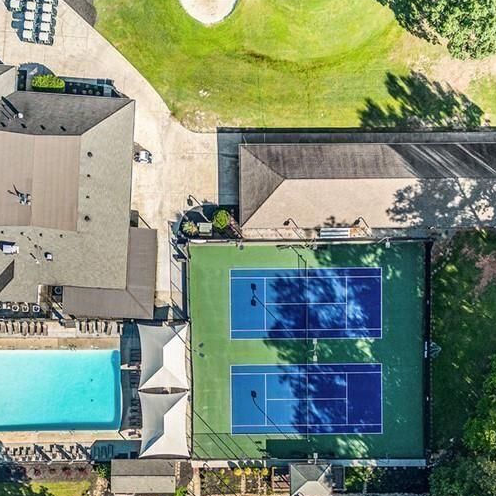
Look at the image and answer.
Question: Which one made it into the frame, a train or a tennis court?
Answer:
tennis court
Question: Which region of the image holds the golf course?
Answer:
top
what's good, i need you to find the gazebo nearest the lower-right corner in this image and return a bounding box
[274,463,346,496]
